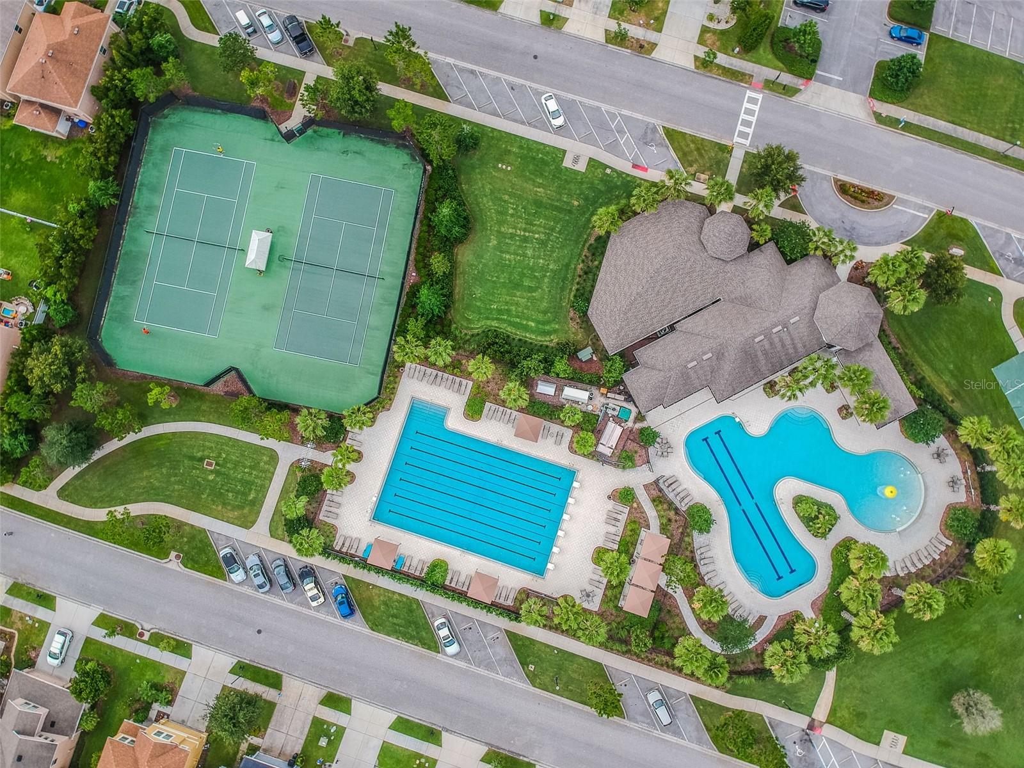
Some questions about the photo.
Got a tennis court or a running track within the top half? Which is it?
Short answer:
tennis court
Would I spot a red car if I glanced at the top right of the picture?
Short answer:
No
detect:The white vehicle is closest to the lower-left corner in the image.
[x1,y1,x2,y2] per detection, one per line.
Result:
[46,626,74,667]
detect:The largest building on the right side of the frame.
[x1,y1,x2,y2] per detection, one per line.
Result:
[588,201,918,431]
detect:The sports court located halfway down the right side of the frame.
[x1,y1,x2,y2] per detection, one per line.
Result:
[992,354,1024,429]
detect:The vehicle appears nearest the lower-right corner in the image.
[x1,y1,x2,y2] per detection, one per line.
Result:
[645,687,674,729]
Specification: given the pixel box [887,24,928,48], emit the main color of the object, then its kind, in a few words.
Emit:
blue car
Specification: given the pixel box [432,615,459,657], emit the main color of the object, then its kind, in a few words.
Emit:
white car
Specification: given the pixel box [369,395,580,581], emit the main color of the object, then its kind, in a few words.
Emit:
blue swimming pool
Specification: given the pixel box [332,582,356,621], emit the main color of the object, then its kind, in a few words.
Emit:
blue car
